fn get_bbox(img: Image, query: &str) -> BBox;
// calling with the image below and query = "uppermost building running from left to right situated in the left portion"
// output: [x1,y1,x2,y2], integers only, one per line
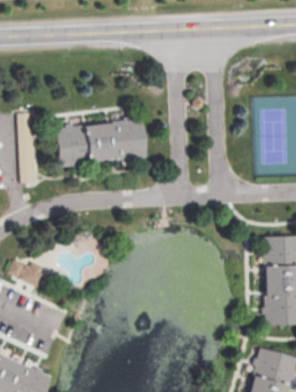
[54,120,146,170]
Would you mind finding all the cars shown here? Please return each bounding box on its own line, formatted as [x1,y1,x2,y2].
[32,302,40,314]
[18,295,26,307]
[25,299,34,311]
[186,23,198,28]
[0,322,6,333]
[5,326,13,337]
[26,334,34,346]
[265,21,277,26]
[6,288,14,300]
[34,339,42,350]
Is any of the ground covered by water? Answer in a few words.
Yes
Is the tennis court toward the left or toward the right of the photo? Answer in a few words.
right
